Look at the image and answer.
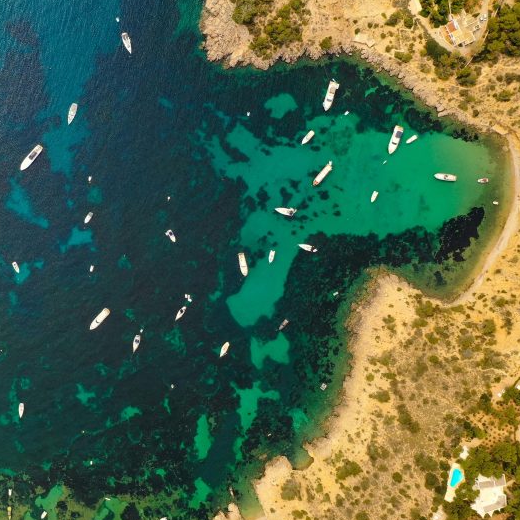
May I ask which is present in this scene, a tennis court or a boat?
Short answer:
boat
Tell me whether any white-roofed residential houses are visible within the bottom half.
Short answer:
Yes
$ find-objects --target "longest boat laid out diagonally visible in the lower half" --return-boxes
[90,306,110,330]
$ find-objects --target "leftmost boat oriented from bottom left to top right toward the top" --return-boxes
[22,144,43,170]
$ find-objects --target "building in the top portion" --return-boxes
[438,11,478,48]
